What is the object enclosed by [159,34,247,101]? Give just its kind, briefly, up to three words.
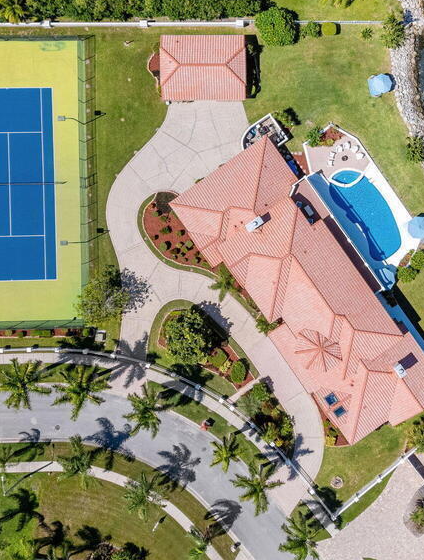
building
